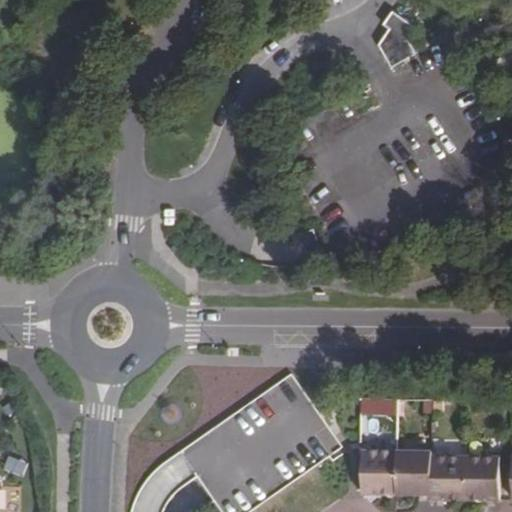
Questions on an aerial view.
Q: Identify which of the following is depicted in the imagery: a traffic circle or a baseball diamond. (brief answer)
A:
traffic circle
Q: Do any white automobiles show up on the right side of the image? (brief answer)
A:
Yes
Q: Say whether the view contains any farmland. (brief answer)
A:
No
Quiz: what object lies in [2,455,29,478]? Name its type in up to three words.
shed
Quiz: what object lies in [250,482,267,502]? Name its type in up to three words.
car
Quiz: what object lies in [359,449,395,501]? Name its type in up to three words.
house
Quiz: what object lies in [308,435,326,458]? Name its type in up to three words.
car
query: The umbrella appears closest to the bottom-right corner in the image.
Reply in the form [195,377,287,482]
[468,440,482,453]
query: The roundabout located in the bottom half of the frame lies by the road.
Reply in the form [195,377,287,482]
[50,265,170,384]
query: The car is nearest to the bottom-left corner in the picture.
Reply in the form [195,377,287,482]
[120,355,140,374]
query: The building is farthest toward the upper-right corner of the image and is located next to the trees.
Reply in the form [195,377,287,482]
[378,10,416,70]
